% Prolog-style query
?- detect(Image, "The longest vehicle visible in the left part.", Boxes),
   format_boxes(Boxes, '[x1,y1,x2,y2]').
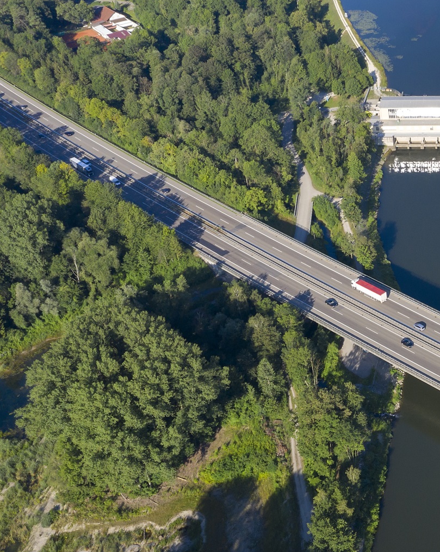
[70,157,93,176]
